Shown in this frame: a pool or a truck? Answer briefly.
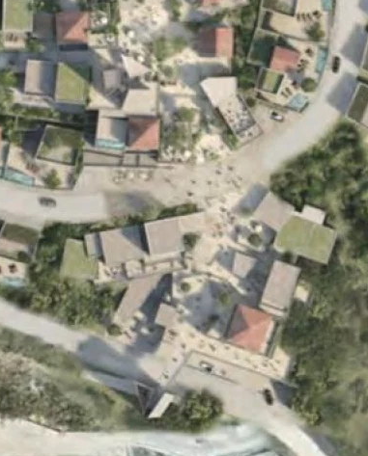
pool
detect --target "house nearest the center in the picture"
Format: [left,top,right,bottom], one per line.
[145,218,183,257]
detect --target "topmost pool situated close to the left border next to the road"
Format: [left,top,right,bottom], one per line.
[0,165,34,187]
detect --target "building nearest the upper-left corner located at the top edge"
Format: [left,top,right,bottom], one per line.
[2,0,33,32]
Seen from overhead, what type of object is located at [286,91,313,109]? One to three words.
swimming pool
